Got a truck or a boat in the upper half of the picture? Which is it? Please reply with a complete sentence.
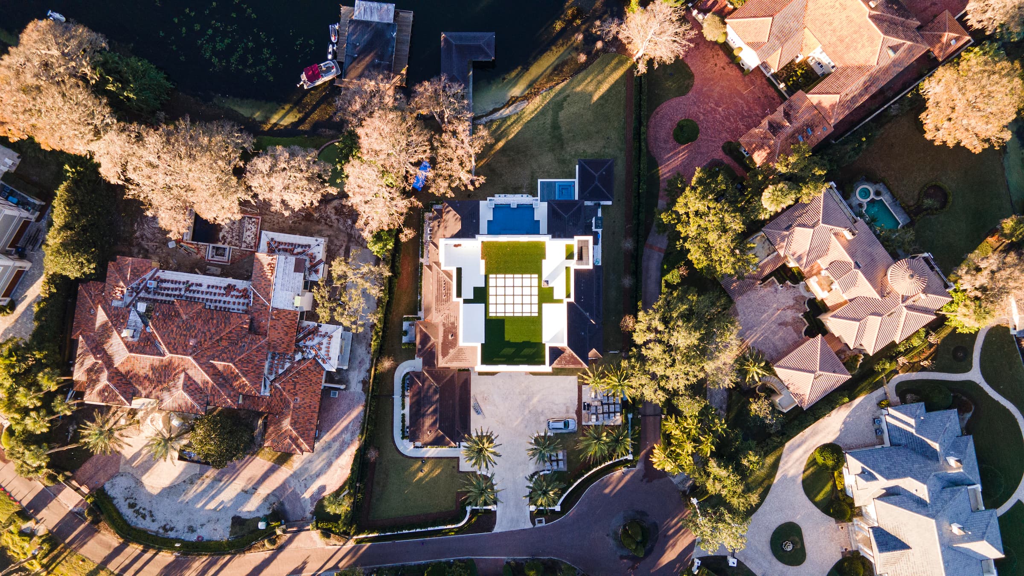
The one visible in the upper half of the picture is a boat.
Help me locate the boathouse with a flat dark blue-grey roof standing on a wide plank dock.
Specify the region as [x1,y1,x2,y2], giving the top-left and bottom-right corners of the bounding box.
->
[335,0,414,88]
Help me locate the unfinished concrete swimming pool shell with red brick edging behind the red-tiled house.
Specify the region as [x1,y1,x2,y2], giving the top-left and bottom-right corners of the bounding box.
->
[185,211,263,267]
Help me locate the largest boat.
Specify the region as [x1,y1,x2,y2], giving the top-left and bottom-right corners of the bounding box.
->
[298,62,339,87]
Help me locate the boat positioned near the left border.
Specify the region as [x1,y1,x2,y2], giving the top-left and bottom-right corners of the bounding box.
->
[45,4,65,21]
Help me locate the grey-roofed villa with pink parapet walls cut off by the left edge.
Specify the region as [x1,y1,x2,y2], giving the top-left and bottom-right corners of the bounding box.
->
[0,182,53,305]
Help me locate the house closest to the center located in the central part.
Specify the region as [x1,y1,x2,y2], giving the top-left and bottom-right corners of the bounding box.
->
[416,197,603,376]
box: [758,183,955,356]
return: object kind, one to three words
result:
house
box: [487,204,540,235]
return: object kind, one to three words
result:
swimming pool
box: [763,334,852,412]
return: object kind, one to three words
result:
building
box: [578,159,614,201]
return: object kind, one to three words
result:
building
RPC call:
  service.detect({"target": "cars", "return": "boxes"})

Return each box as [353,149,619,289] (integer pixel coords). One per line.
[547,418,577,432]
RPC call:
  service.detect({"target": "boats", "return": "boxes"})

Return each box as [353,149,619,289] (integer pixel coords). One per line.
[327,41,335,61]
[330,23,338,43]
[45,4,65,21]
[298,62,339,87]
